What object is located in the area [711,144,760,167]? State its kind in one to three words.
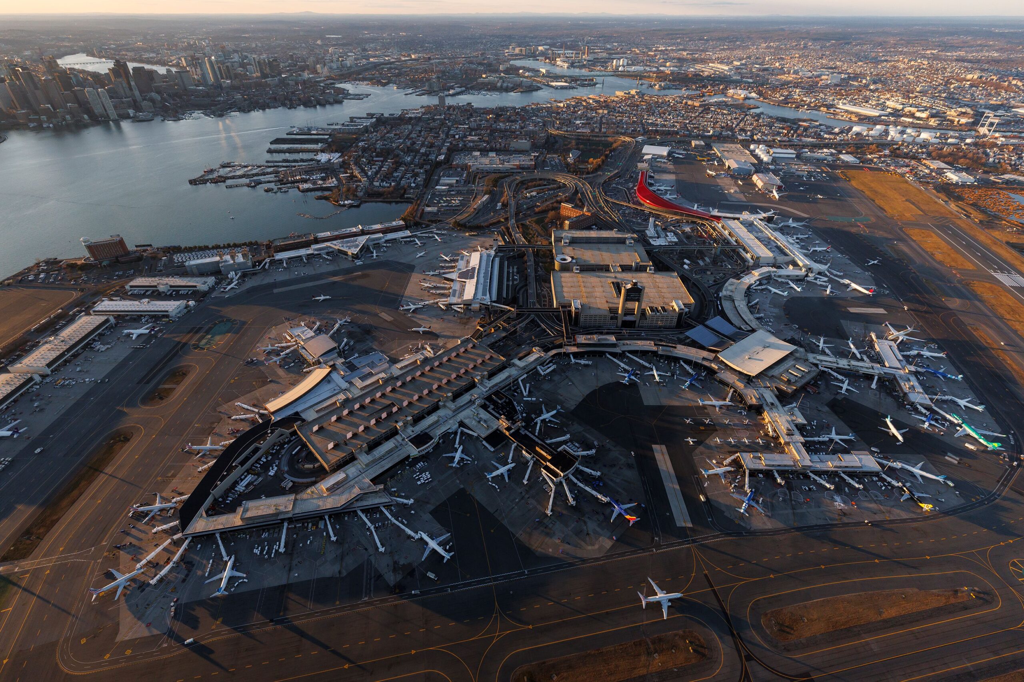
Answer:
hangar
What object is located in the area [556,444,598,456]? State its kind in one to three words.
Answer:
jet bridge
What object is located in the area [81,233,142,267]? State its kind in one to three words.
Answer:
building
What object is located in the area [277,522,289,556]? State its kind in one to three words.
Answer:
jet bridge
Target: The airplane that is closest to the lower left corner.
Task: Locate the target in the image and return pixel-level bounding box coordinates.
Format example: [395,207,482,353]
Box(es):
[91,568,146,598]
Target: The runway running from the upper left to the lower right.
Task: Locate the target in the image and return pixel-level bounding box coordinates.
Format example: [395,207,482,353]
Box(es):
[925,221,1024,314]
